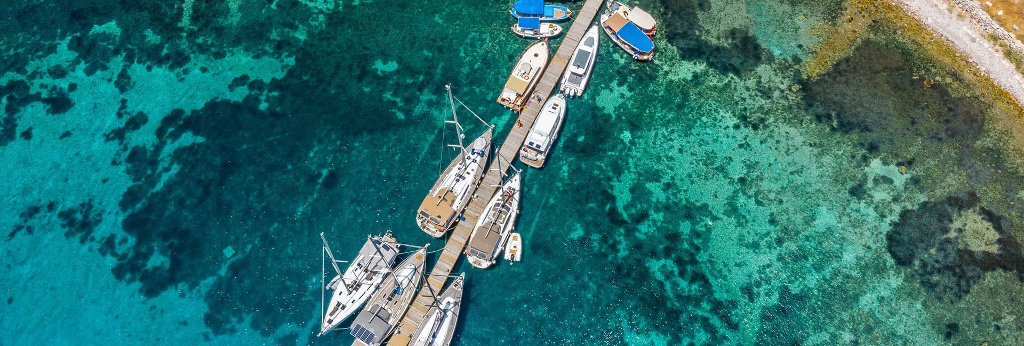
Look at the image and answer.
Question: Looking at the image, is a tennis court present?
No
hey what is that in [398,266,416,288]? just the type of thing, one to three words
boat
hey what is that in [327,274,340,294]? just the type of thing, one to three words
boat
